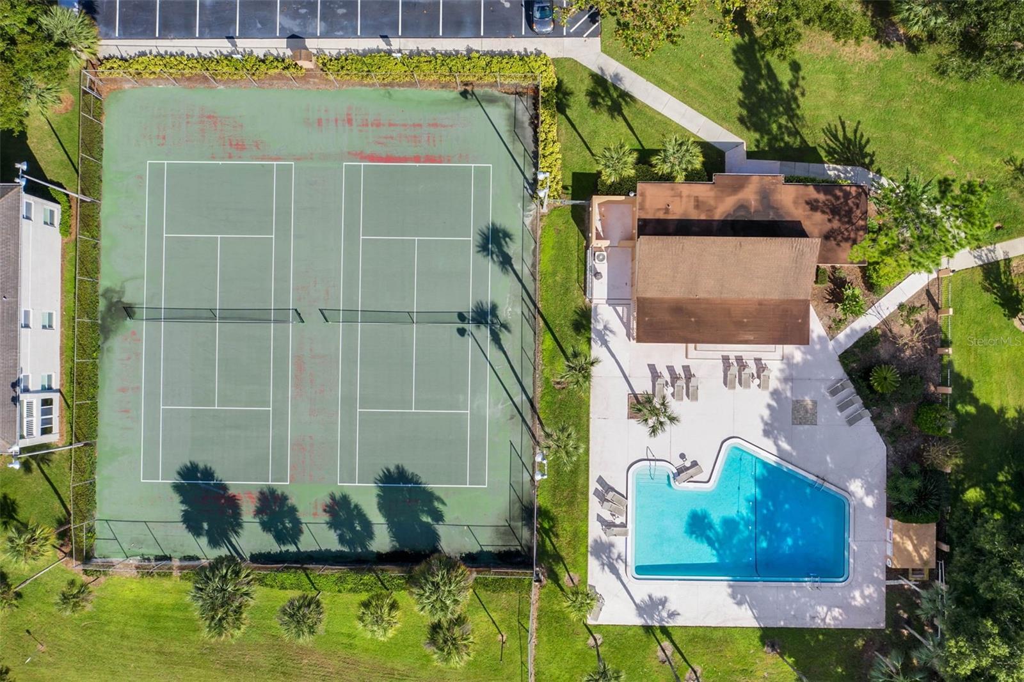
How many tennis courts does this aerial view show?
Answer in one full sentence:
In total, 2 tennis courts can be seen.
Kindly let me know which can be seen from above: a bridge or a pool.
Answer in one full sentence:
This aerial view contains a pool.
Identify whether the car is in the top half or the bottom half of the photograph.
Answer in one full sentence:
The car sits in the top half of the picture.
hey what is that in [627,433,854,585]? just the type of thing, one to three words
swimming pool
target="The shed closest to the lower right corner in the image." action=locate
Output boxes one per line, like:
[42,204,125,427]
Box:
[886,518,937,568]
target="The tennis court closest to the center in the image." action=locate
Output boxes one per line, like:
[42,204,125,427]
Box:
[338,163,492,488]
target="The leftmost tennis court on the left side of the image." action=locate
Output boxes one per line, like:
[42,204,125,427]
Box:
[141,161,294,484]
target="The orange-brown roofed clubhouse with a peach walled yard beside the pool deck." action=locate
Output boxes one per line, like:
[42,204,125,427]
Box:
[587,174,868,360]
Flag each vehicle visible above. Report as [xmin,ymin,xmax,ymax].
[529,0,558,33]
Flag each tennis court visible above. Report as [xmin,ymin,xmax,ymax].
[141,161,294,484]
[338,163,492,488]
